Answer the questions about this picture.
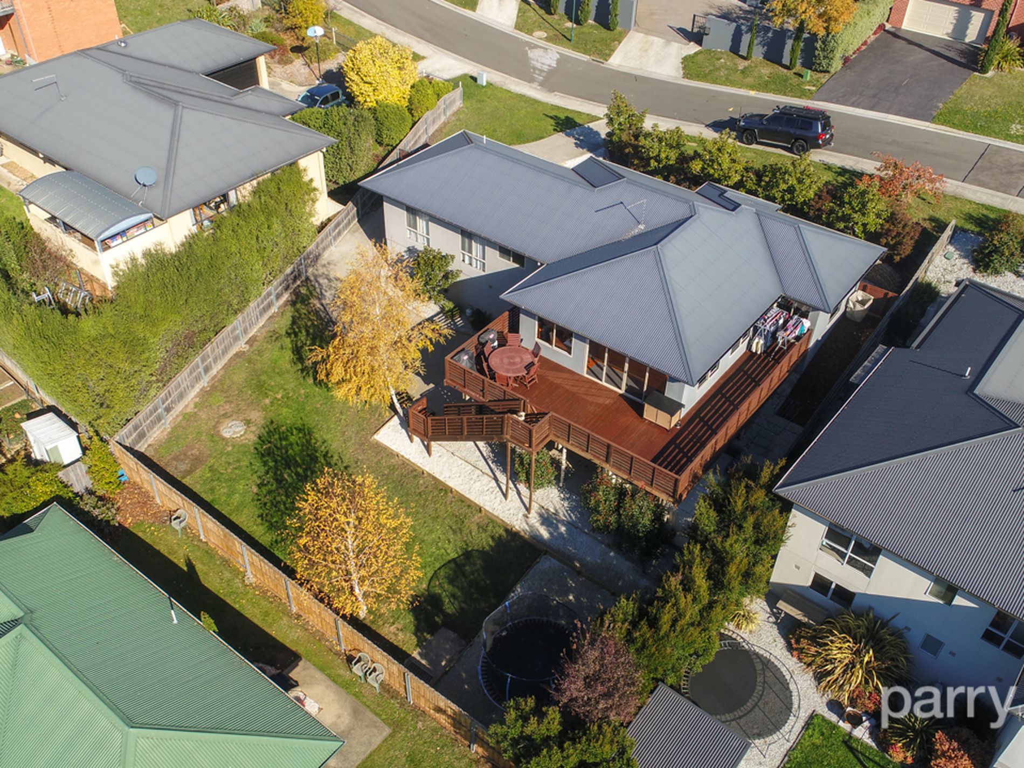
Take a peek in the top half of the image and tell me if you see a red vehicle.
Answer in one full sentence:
No, there is no red vehicle in the top half of the image.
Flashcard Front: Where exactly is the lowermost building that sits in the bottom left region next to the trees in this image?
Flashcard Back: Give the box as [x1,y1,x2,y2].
[0,501,348,768]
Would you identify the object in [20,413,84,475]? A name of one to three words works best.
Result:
shed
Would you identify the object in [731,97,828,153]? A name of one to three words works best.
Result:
car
